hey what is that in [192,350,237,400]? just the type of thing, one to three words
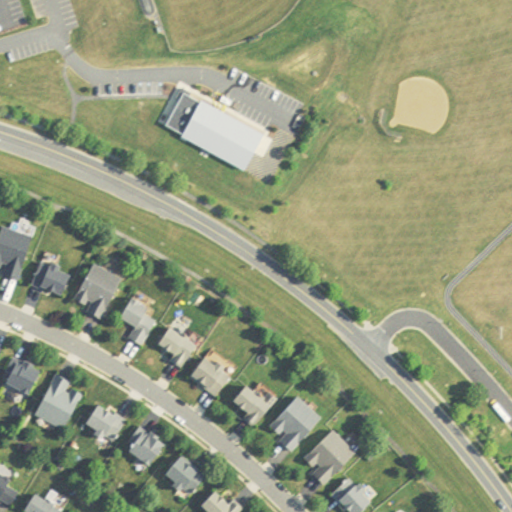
house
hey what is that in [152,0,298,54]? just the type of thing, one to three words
sports field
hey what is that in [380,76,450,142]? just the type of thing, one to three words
baseball field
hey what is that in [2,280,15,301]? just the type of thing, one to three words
vehicle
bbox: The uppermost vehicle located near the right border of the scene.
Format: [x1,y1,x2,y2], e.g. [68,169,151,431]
[490,400,512,424]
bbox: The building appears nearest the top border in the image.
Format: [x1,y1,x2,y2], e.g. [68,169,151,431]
[156,88,264,172]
